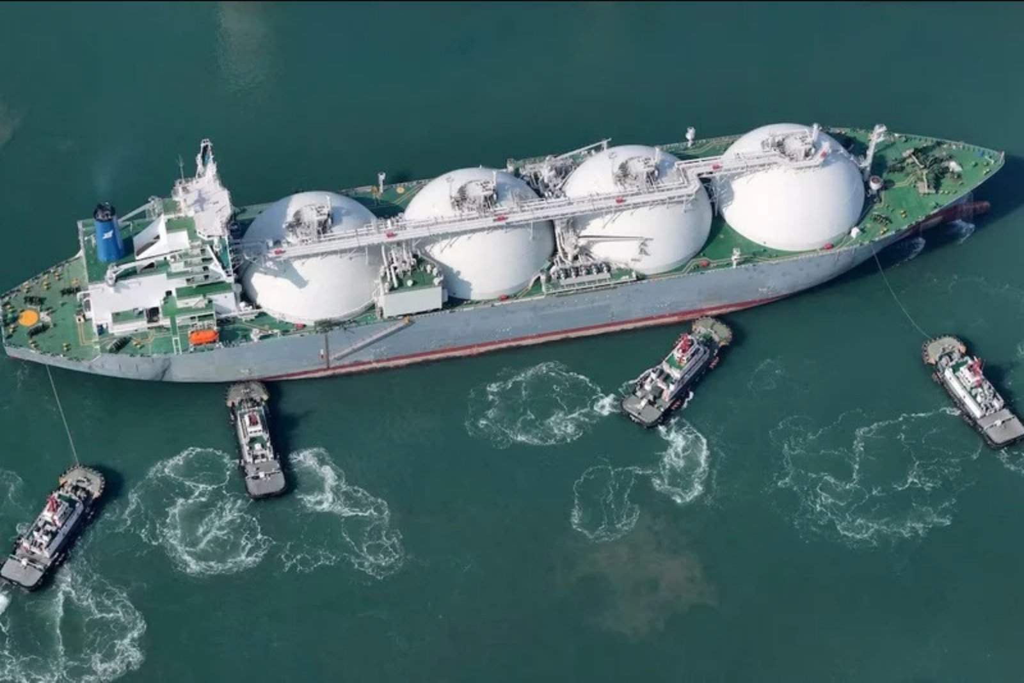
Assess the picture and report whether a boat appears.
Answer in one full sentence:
Yes, the picture does show a boat.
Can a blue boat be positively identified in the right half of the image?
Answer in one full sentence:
No, there's no blue boat to be seen in the right half of the image.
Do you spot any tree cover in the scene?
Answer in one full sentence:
No, there's no tree cover in this view.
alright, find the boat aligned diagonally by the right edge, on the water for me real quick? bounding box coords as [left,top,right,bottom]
[921,336,1021,455]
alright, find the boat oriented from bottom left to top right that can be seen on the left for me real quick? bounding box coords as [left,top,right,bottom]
[0,466,107,591]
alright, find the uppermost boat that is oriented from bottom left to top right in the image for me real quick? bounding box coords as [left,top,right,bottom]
[625,317,728,426]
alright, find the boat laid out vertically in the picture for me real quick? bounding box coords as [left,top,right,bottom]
[221,379,288,504]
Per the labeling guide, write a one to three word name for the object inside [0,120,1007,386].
ship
